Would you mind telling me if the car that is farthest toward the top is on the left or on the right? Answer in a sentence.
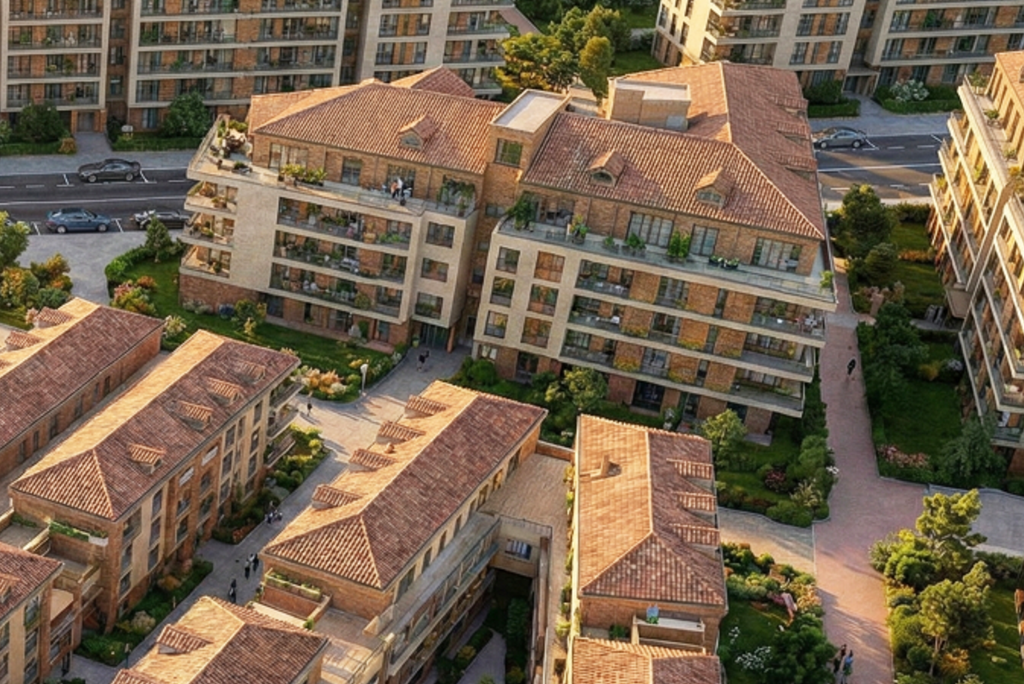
The car that is farthest toward the top is on the right side of the image.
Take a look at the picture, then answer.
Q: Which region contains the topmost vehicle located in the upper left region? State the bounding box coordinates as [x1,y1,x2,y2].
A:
[78,154,144,183]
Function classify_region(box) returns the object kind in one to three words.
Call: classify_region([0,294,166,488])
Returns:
house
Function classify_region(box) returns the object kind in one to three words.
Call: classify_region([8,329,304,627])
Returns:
house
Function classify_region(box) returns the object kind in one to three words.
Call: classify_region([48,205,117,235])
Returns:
car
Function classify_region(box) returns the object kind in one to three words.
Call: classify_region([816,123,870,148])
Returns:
car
